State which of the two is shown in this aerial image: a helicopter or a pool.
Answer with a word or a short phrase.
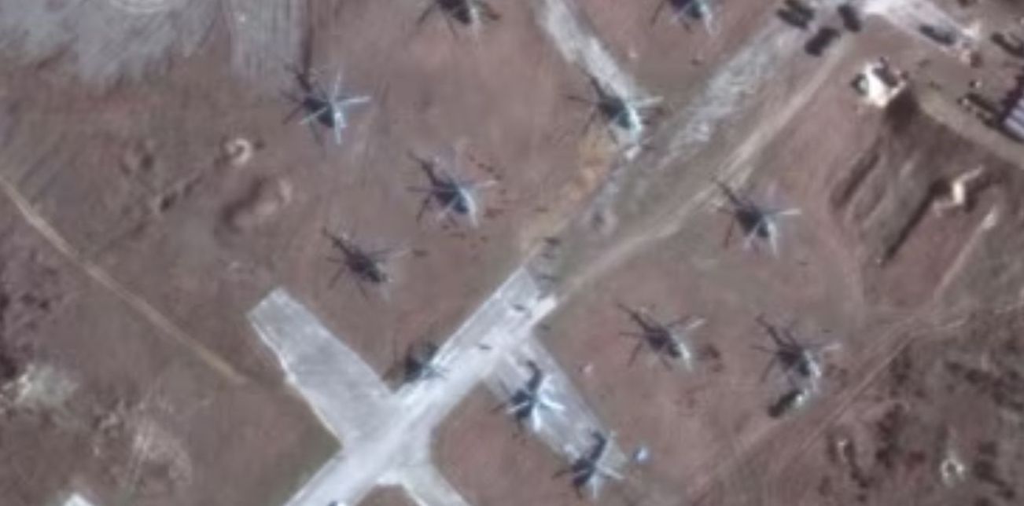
helicopter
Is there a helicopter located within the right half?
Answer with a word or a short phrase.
Yes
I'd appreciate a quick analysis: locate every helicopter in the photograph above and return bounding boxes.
[303,62,369,138]
[771,312,839,382]
[568,429,623,495]
[508,364,564,430]
[672,0,712,26]
[593,65,663,137]
[633,296,702,363]
[729,179,798,248]
[436,0,476,31]
[425,153,495,221]
[338,222,407,291]
[401,335,457,398]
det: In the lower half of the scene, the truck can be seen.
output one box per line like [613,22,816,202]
[771,391,805,415]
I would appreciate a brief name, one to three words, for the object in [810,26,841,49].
truck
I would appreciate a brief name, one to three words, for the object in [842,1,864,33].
truck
